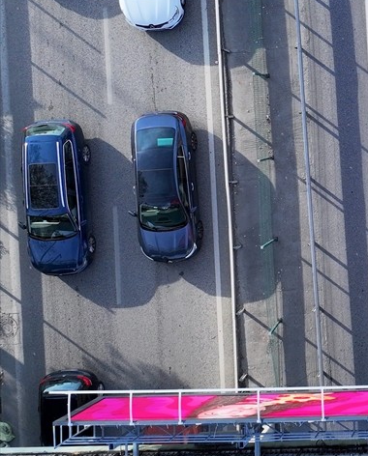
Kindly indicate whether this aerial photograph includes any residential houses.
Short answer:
No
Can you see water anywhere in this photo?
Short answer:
No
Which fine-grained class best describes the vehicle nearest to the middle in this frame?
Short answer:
automobile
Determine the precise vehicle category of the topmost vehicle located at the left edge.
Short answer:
car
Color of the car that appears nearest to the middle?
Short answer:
black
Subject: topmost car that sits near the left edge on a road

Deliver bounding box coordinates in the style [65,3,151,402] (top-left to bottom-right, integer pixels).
[9,124,100,273]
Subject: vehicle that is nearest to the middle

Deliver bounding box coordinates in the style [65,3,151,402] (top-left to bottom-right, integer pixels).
[126,113,206,260]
